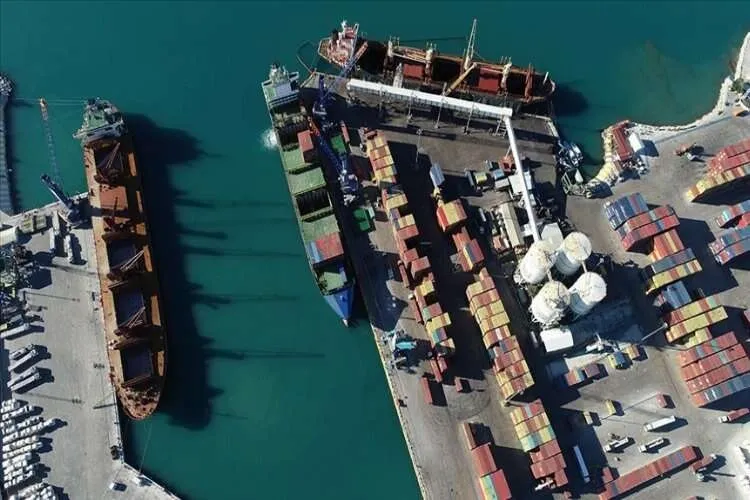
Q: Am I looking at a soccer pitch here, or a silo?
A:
silo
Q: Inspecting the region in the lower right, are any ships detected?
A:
No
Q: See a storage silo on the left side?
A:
No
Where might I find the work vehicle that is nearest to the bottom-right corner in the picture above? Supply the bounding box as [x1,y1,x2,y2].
[686,458,715,489]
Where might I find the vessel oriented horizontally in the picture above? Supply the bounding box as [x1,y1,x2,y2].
[304,19,557,122]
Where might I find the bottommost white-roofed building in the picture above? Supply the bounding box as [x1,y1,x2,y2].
[538,327,575,354]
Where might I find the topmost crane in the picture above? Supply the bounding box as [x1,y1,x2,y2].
[305,40,369,131]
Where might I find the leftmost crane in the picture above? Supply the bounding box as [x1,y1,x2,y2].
[39,99,86,226]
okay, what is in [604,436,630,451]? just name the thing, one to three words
vehicle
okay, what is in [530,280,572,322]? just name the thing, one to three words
silo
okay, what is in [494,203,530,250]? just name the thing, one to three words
building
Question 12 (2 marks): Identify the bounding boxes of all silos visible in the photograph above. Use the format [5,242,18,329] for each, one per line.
[521,236,562,280]
[530,280,572,322]
[567,272,609,315]
[553,232,593,276]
